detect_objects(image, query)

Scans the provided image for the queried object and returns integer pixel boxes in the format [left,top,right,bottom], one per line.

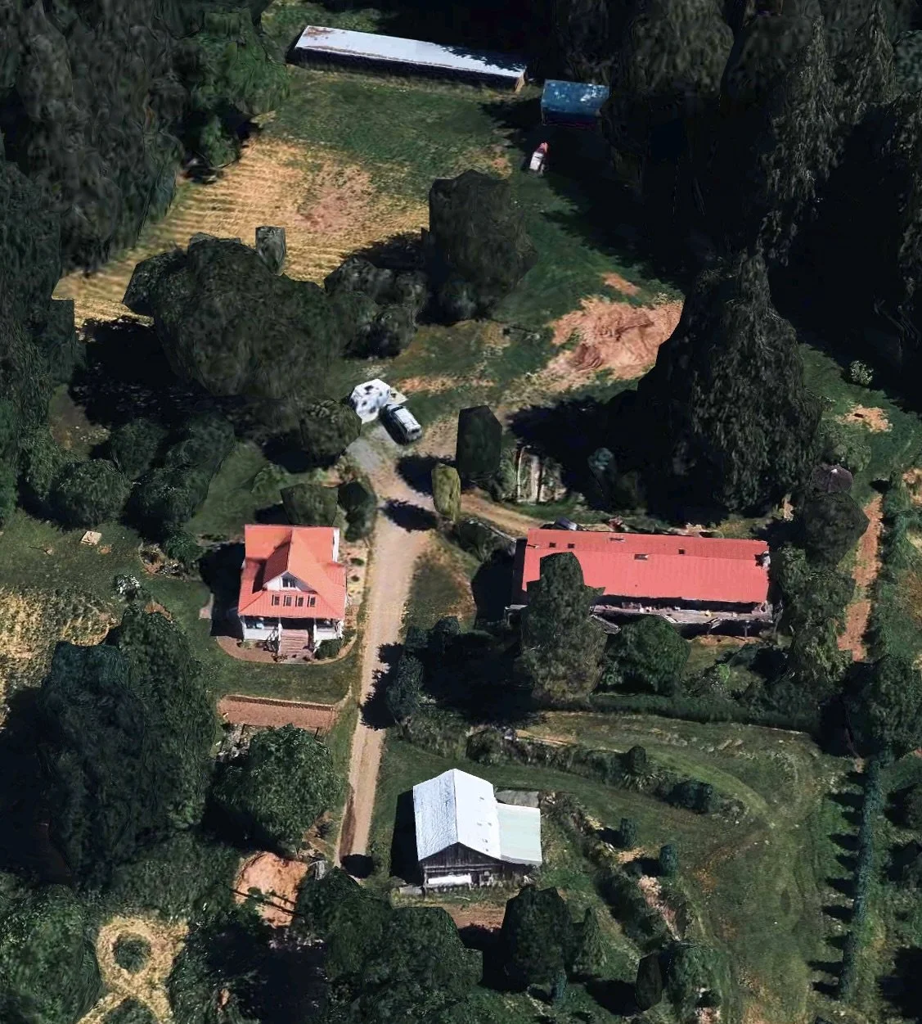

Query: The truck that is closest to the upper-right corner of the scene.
[528,142,549,171]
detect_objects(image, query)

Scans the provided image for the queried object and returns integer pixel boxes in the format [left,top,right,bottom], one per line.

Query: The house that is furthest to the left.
[237,530,352,657]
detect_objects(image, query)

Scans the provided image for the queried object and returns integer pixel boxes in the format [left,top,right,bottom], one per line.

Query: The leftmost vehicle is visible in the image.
[385,404,424,440]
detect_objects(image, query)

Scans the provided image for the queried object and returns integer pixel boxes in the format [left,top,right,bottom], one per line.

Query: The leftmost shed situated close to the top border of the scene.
[295,24,528,96]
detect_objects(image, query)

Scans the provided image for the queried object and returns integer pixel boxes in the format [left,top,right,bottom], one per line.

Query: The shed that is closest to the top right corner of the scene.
[540,82,609,132]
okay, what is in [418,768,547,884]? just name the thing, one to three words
barn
